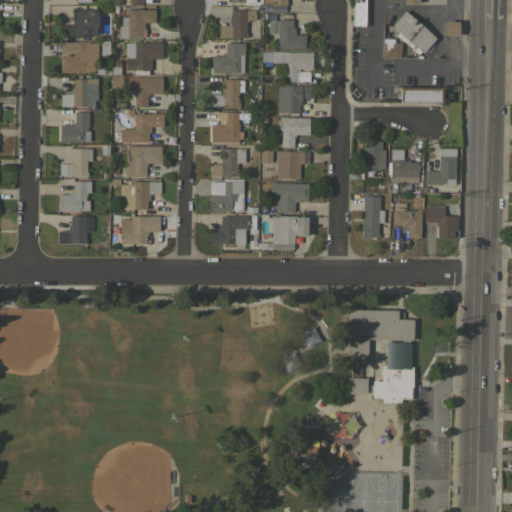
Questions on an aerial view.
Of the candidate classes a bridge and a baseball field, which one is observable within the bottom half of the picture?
baseball field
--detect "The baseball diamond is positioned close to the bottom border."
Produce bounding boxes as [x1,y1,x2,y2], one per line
[94,443,170,512]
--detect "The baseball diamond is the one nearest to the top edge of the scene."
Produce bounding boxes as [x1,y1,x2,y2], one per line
[0,309,60,376]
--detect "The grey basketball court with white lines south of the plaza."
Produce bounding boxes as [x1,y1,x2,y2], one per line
[330,472,404,512]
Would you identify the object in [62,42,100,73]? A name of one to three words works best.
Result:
house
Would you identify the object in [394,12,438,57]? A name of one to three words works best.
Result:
building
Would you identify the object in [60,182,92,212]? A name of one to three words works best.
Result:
house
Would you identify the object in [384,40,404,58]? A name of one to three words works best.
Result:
building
